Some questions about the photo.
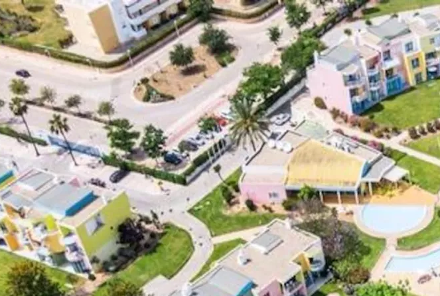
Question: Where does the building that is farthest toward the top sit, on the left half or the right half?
left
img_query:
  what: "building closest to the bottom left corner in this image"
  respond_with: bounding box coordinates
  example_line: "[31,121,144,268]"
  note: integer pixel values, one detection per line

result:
[0,154,139,278]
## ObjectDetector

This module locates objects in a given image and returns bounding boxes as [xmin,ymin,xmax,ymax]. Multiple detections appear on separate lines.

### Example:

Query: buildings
[73,0,193,53]
[306,0,440,114]
[240,129,411,205]
[0,154,139,278]
[174,215,334,296]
